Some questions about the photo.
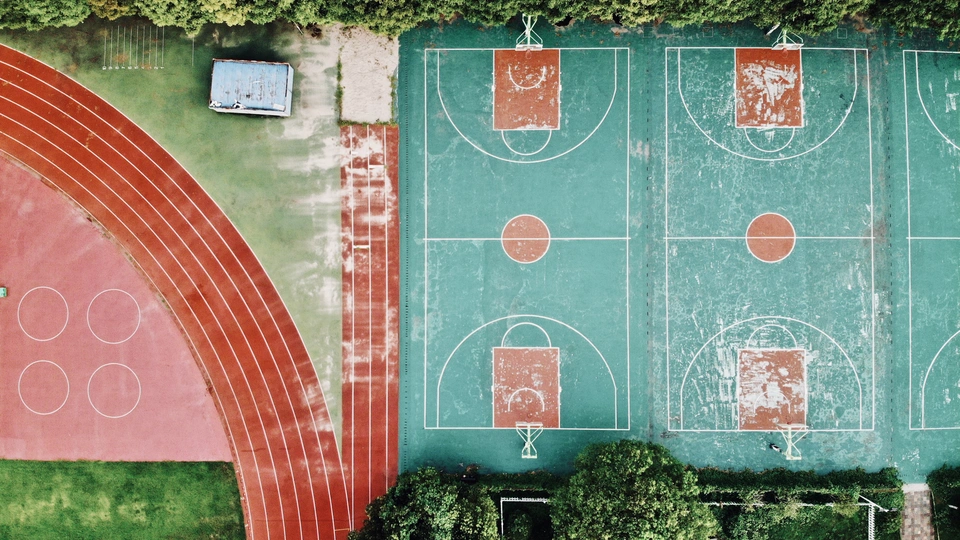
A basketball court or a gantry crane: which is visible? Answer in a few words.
basketball court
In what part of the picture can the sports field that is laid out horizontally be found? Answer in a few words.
bottom left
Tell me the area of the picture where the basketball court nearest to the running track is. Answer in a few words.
center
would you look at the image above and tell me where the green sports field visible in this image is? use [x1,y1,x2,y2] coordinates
[0,459,248,540]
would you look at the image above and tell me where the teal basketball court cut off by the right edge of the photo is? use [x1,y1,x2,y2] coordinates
[903,51,960,430]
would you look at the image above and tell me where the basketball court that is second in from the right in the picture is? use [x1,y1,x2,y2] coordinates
[665,47,875,431]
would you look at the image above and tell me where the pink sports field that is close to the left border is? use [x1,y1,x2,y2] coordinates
[0,157,232,461]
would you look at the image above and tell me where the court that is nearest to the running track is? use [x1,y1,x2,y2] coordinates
[423,48,632,430]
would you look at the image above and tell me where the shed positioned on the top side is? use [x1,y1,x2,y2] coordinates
[210,58,294,116]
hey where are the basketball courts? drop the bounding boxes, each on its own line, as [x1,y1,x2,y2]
[903,51,960,430]
[665,47,875,431]
[423,48,632,430]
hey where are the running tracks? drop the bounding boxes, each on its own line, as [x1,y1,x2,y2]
[0,42,351,540]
